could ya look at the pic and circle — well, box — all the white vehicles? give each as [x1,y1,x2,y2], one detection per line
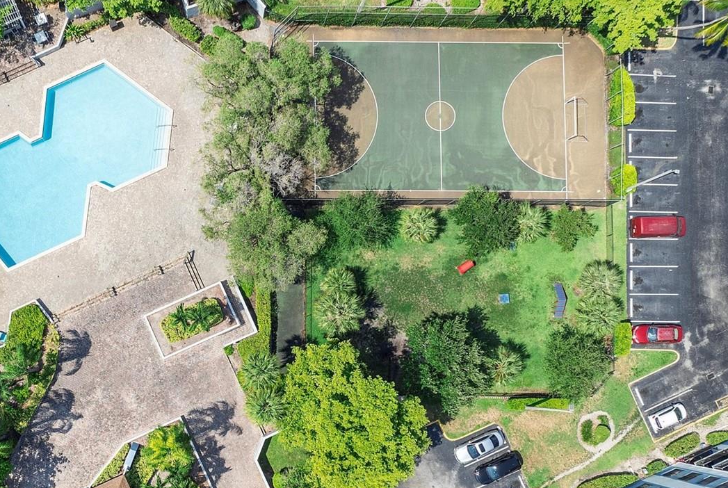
[452,428,504,461]
[643,403,687,433]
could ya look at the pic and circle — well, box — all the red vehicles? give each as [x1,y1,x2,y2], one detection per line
[626,214,685,238]
[635,324,681,346]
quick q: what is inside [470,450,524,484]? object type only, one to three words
car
